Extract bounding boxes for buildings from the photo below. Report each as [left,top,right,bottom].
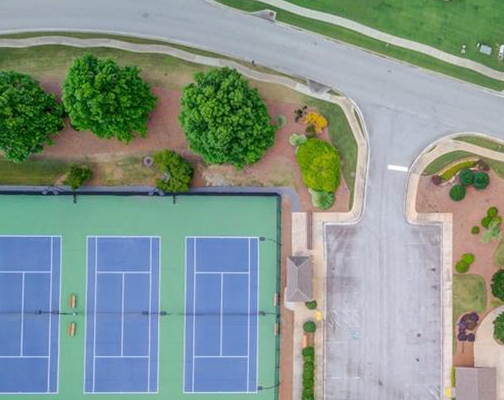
[286,256,314,301]
[455,367,496,400]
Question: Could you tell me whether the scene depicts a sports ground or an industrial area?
sports ground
